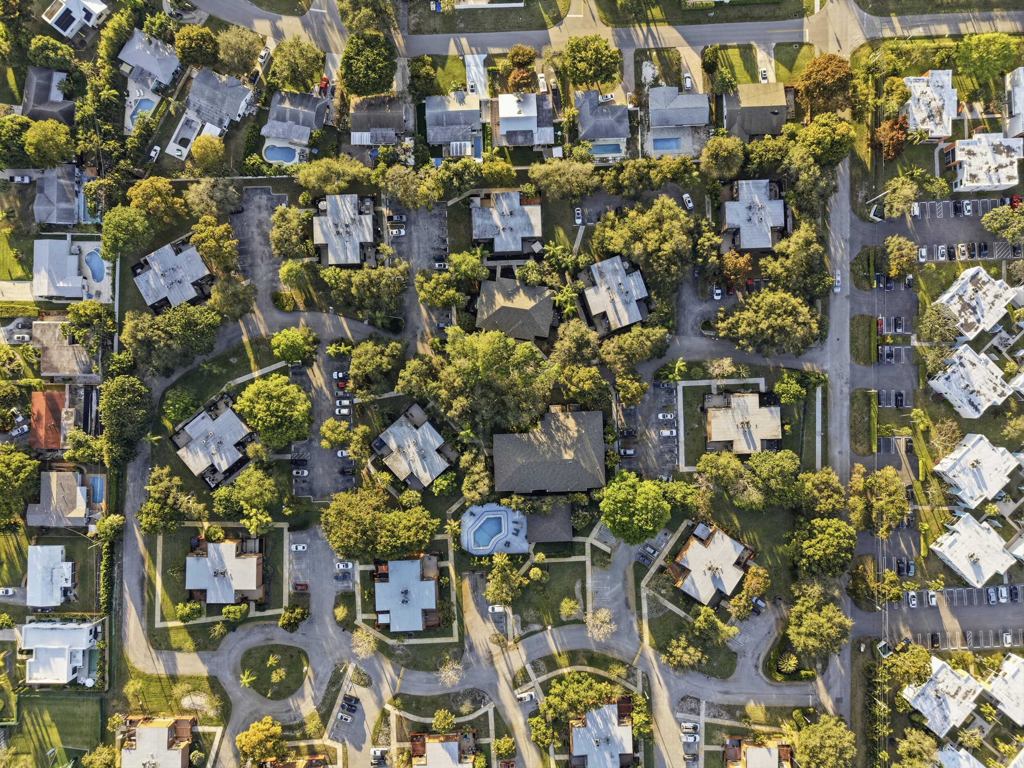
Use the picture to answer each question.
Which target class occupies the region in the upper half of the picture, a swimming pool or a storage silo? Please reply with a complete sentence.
It is a swimming pool that can be seen in the upper half of the picture.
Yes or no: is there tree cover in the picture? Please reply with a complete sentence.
Yes, there's tree cover in this view.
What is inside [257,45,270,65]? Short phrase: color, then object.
white vehicle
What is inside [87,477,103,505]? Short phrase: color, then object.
blue swimming pool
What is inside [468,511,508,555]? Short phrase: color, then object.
blue swimming pool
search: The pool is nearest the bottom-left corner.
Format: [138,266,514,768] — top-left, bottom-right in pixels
[86,649,98,679]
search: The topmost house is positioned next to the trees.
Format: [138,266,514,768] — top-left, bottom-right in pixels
[42,0,112,39]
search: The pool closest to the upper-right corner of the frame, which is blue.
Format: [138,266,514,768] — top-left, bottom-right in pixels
[653,137,682,151]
